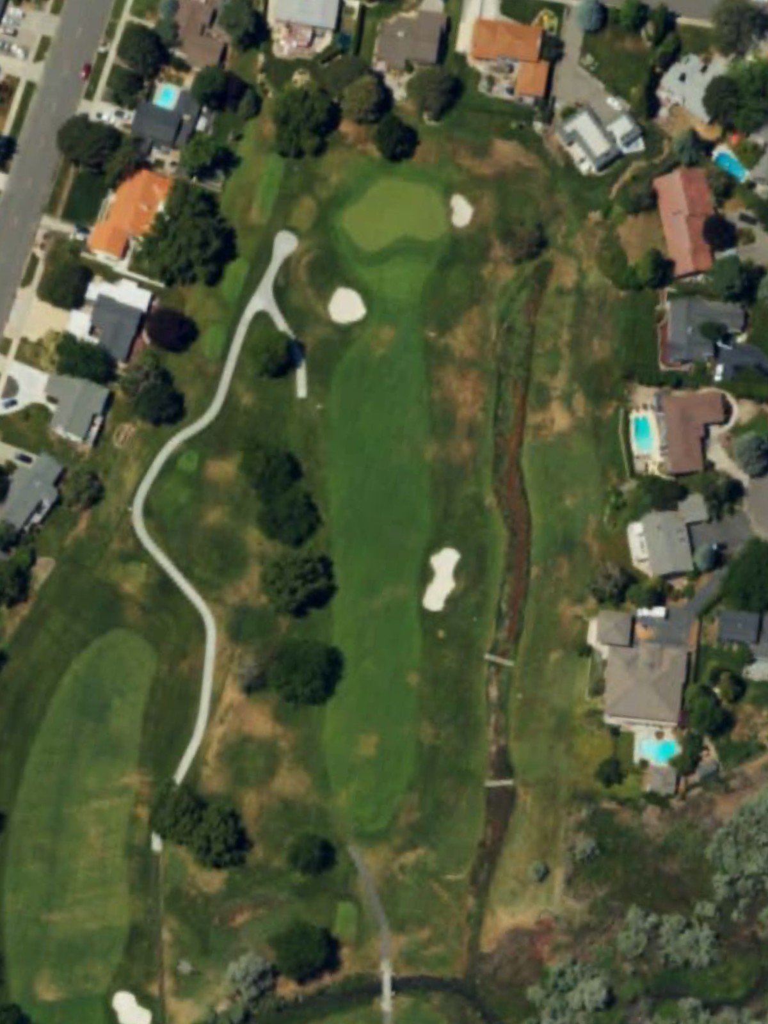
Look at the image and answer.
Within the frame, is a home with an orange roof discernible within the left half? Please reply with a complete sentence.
Yes, within the left half there is a home with an orange roof.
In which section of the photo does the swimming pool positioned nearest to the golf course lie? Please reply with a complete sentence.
The swimming pool positioned nearest to the golf course is in the top left part of the image.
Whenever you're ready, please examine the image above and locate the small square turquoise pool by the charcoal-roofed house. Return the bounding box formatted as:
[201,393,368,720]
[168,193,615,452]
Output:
[156,83,176,111]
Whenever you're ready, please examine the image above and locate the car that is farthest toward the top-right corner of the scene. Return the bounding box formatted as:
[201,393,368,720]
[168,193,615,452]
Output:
[607,95,621,109]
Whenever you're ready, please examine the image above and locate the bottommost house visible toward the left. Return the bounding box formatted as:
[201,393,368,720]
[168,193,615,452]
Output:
[0,446,72,535]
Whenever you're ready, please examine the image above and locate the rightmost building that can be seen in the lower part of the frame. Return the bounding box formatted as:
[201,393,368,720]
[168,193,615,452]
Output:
[719,612,768,654]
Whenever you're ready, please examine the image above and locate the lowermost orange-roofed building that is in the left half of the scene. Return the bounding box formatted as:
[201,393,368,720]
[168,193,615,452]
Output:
[89,169,175,257]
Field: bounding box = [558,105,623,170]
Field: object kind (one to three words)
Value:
house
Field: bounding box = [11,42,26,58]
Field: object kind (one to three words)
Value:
vehicle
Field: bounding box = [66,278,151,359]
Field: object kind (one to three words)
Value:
house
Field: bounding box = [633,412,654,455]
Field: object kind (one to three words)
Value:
swimming pool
